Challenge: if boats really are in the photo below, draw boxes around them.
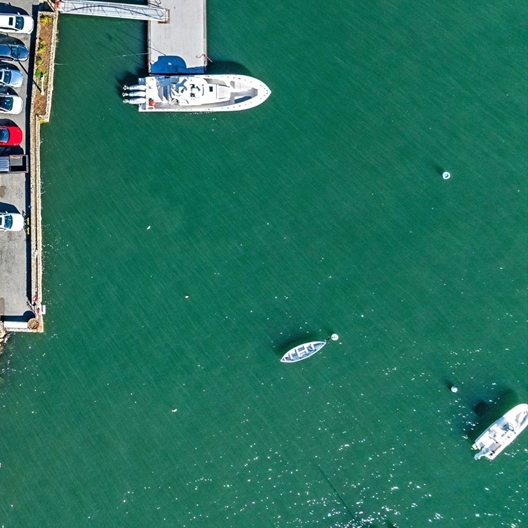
[121,64,272,110]
[280,341,328,363]
[475,400,528,461]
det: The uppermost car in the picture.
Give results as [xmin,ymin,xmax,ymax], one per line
[0,12,34,35]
